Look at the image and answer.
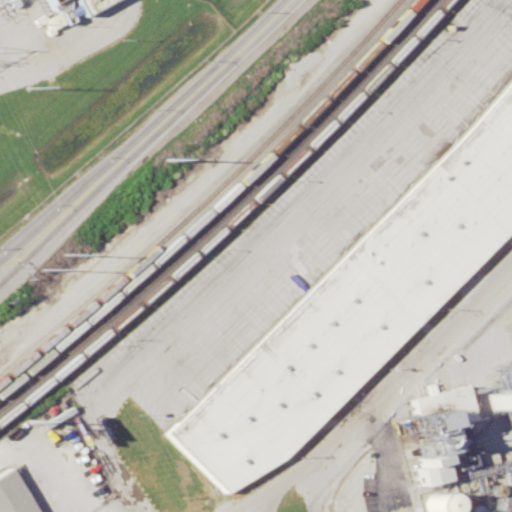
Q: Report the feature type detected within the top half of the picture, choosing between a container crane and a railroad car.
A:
railroad car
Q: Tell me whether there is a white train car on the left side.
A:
Yes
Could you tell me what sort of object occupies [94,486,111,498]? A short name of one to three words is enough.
vehicle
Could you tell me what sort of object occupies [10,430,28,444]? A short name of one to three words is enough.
vehicle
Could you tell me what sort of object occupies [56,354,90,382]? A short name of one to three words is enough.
rail car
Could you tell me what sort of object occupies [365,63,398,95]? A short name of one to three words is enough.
rail car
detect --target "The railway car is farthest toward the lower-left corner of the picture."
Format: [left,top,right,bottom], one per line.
[0,402,31,432]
